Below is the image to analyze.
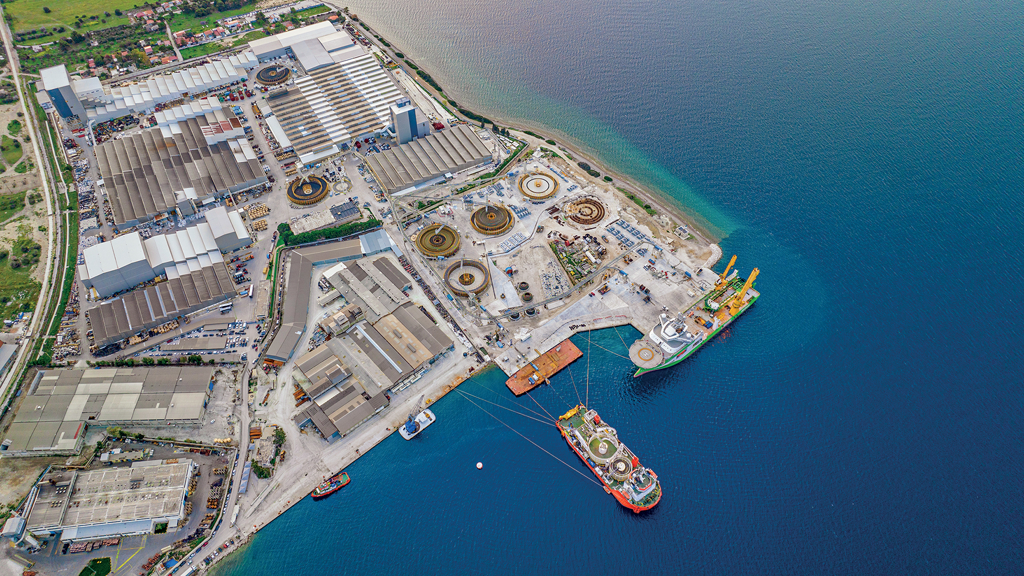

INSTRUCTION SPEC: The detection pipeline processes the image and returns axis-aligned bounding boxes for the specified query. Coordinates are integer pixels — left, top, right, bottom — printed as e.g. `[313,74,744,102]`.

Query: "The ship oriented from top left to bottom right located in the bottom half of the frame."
[555,403,664,509]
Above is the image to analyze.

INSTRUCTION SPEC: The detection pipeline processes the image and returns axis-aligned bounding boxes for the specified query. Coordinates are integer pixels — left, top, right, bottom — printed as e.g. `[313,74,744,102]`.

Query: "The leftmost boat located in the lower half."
[305,471,351,498]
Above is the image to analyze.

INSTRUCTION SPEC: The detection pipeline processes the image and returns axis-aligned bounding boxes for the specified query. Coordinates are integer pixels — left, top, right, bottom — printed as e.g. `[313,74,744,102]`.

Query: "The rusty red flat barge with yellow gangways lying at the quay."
[505,339,583,397]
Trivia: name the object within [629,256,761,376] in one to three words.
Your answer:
ship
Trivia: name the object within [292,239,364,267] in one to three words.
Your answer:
building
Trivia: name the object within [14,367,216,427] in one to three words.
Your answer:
building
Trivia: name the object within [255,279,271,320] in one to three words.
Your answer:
shed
